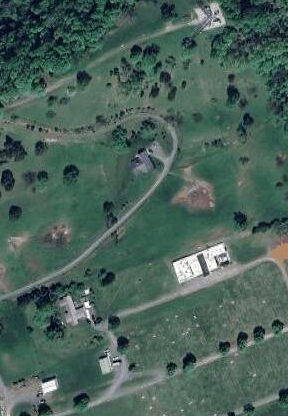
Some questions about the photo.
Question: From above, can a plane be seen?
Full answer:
No, there's no plane here.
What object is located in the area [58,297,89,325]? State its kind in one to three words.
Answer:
house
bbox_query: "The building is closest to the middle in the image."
[132,149,155,174]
